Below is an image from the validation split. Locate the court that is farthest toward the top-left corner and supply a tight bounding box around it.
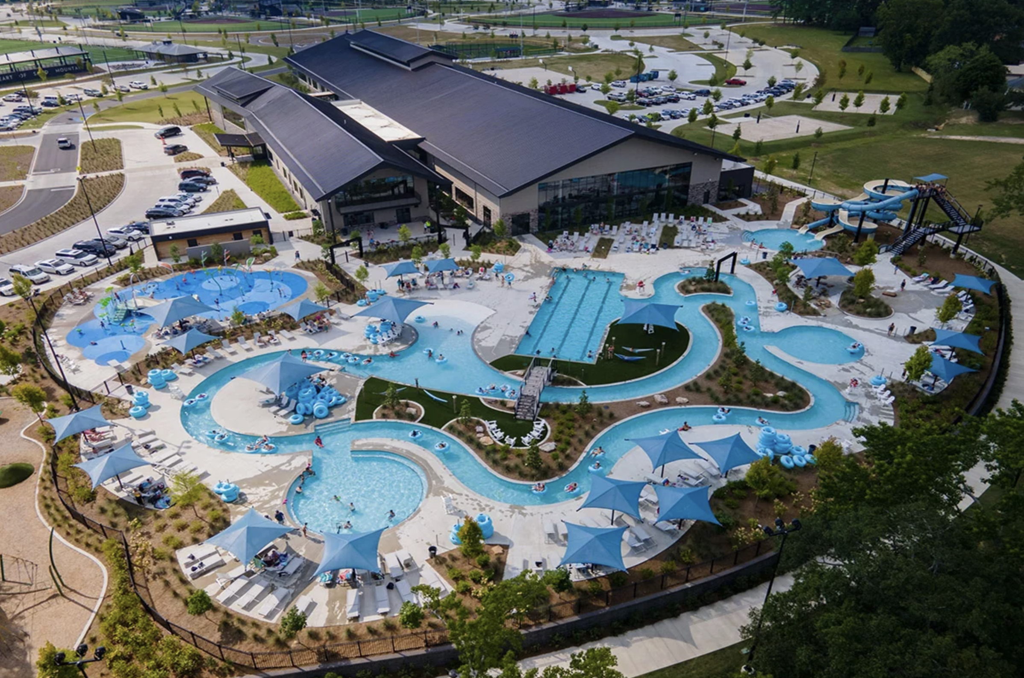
[428,43,563,58]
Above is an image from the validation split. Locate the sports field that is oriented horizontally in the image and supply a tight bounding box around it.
[0,0,771,75]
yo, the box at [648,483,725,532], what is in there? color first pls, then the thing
blue umbrella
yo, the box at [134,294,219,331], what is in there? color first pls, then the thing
blue umbrella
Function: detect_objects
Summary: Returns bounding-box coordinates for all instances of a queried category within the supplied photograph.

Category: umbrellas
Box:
[67,441,159,494]
[423,258,462,286]
[201,506,302,575]
[613,300,683,336]
[378,261,425,291]
[307,526,390,583]
[927,327,986,357]
[229,350,337,400]
[688,432,764,480]
[154,327,225,364]
[948,273,999,305]
[275,298,333,330]
[348,295,437,331]
[574,474,648,523]
[556,519,631,576]
[41,403,120,450]
[622,428,710,475]
[931,344,982,387]
[786,257,857,289]
[648,483,725,532]
[134,294,219,331]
